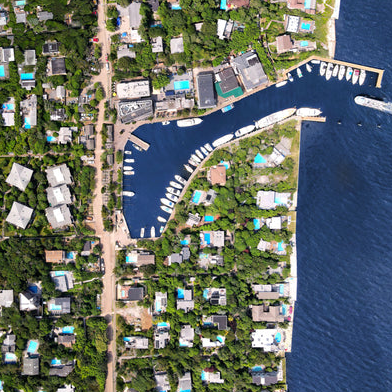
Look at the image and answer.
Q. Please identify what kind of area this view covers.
residential area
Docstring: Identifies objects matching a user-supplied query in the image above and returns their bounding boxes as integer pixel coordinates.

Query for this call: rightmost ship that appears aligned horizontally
[354,97,389,111]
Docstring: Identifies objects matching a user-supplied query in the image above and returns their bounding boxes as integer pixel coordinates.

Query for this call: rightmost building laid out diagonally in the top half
[253,136,294,168]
